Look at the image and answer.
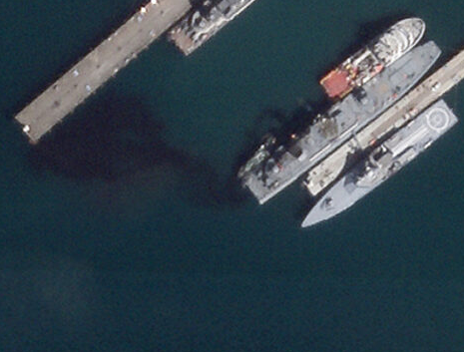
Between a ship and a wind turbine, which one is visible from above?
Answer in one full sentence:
Looking from above, you can make out a ship.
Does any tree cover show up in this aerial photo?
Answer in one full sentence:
No, no tree cover is visible.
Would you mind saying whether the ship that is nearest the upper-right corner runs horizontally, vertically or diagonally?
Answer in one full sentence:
I'd say the ship that is nearest the upper-right corner is aligned diagonally in the picture.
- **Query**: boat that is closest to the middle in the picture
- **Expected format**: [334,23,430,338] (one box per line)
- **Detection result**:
[238,147,270,176]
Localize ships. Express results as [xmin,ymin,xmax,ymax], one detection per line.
[302,99,458,227]
[320,18,424,98]
[240,41,441,204]
[169,0,255,56]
